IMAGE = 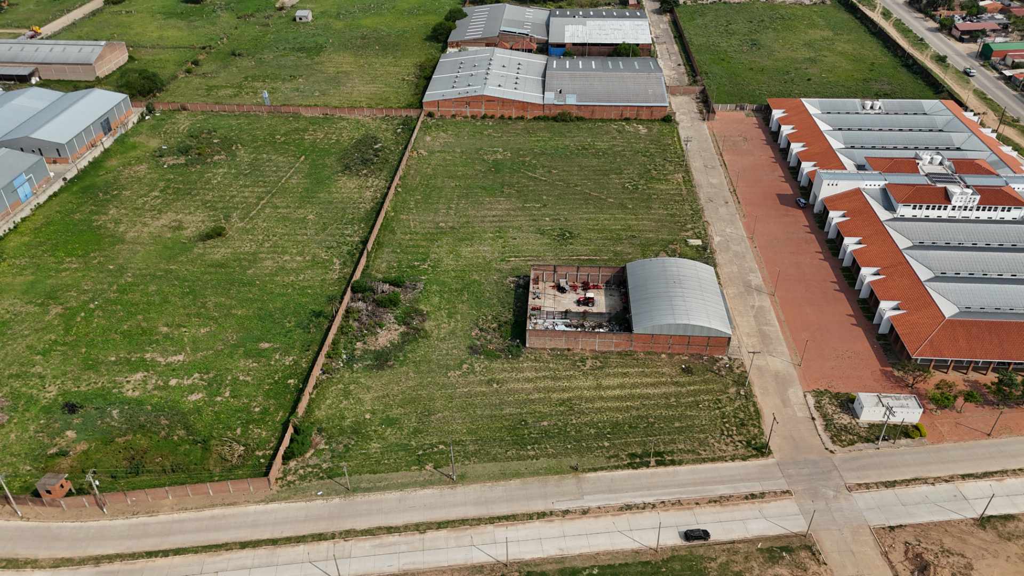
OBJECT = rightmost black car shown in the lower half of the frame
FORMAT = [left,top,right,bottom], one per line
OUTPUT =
[682,528,711,543]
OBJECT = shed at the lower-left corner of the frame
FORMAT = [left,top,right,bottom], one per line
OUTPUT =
[38,470,80,495]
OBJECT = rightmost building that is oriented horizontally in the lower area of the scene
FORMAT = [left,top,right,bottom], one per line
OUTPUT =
[852,392,926,428]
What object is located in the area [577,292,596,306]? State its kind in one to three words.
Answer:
work vehicle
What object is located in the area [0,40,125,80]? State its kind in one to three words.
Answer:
building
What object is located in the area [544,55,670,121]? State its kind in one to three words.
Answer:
building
